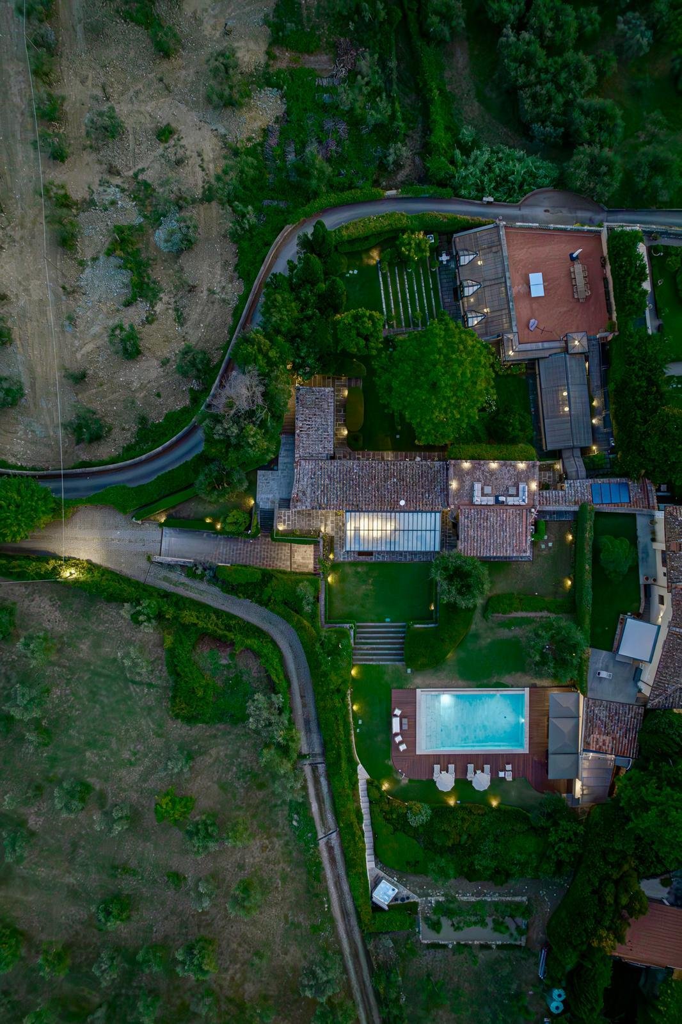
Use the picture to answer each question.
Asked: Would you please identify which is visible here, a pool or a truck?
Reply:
pool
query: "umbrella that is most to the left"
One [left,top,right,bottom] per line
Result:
[438,777,457,797]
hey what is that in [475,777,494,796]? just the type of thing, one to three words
umbrella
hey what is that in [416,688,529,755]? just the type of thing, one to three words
swimming pool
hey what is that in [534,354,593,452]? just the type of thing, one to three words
house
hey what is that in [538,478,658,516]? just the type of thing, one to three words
shed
